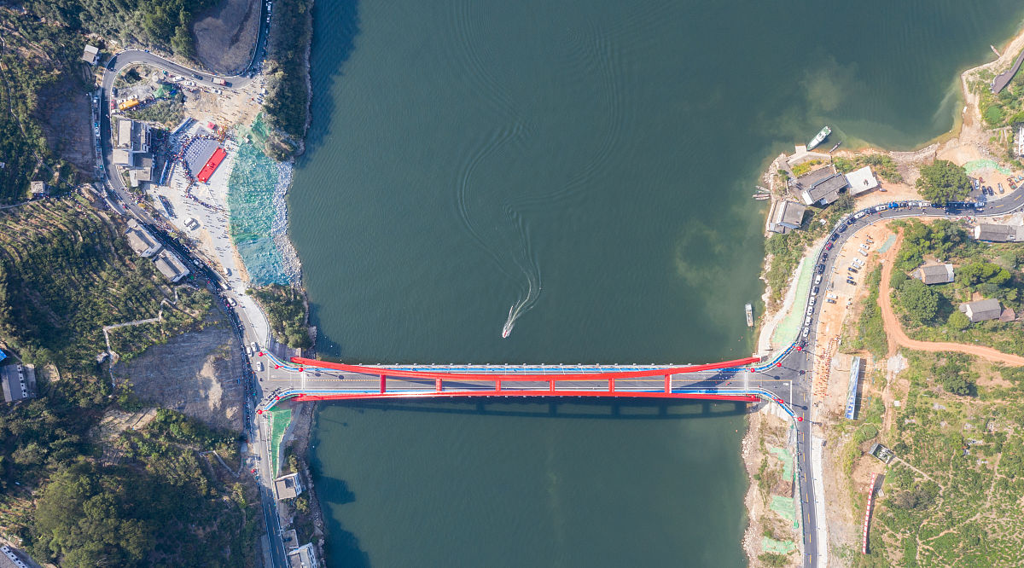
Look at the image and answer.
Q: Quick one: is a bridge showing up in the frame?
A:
Yes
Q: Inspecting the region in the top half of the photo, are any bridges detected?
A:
No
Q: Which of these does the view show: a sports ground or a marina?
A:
marina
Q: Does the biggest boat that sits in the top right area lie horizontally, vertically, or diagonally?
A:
diagonally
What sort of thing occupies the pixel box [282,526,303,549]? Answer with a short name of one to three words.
house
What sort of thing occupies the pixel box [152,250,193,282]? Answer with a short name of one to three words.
house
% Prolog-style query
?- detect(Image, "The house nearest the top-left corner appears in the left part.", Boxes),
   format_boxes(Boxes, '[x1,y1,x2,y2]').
[82,44,105,68]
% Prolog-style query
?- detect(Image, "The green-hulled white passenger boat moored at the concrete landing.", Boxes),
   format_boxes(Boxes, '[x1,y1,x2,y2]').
[808,126,831,149]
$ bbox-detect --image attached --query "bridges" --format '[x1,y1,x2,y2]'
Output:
[260,338,800,421]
